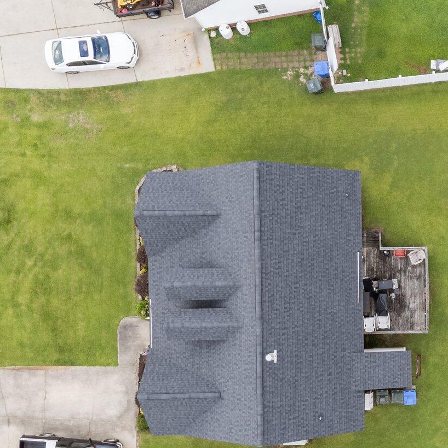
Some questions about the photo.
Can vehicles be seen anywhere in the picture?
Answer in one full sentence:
Yes, the image includes a vehicle.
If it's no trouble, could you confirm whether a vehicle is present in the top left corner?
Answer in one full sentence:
Yes, a vehicle shows up in the top left corner.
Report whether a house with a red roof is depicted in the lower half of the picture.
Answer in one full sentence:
No, I see no house with a red roof in the lower half of the picture.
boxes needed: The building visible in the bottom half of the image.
[133,160,413,447]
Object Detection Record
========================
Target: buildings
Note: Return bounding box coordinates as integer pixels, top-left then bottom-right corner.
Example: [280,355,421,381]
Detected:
[133,160,413,447]
[175,0,325,36]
